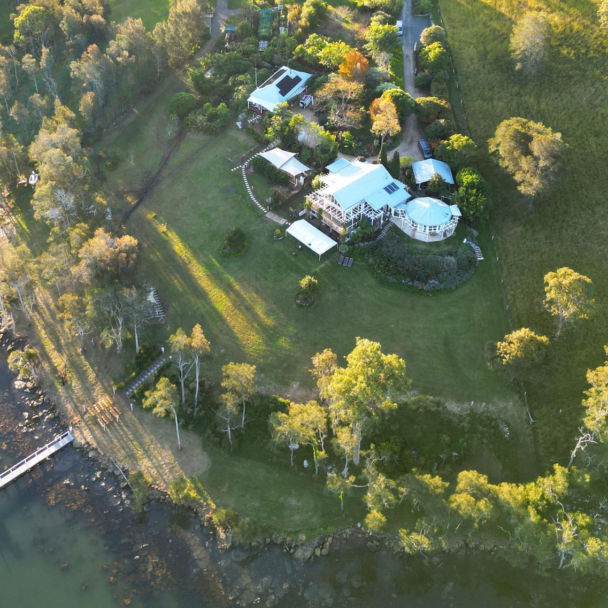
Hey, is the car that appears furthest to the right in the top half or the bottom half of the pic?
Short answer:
top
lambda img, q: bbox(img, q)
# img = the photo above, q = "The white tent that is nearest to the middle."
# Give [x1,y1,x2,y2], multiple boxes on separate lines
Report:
[284,221,338,264]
